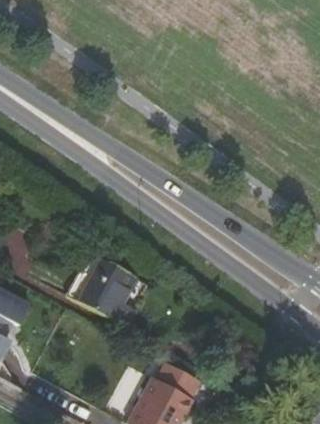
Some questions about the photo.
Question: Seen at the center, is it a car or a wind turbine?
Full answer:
Looking at the center, you will find a car.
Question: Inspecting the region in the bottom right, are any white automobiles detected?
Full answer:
No, the scene shows no white automobile in the bottom right.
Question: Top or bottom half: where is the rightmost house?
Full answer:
The bottom half of the photo is where the rightmost house is.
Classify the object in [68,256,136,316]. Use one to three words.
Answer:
house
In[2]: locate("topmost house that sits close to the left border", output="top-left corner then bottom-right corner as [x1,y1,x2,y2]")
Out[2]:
[0,284,32,327]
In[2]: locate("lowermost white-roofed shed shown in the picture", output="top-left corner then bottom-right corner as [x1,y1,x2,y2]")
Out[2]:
[106,368,142,416]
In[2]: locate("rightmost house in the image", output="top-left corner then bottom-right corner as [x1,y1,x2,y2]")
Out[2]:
[125,362,202,424]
